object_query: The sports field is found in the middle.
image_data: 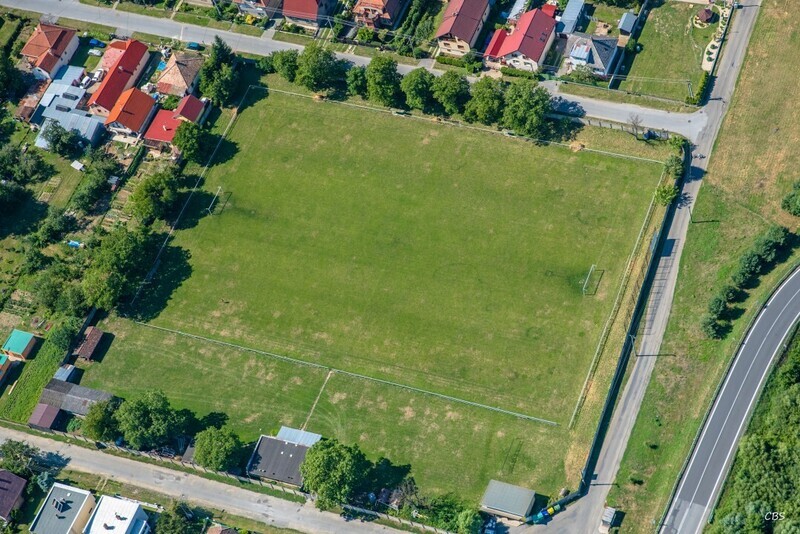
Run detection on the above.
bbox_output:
[131,91,661,426]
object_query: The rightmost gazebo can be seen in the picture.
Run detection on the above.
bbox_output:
[695,7,713,26]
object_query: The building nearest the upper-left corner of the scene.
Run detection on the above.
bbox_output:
[20,23,76,80]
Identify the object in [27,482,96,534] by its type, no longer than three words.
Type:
house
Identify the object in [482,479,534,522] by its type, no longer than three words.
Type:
building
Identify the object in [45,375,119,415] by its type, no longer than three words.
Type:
barn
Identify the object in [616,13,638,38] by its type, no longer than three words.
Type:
shed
